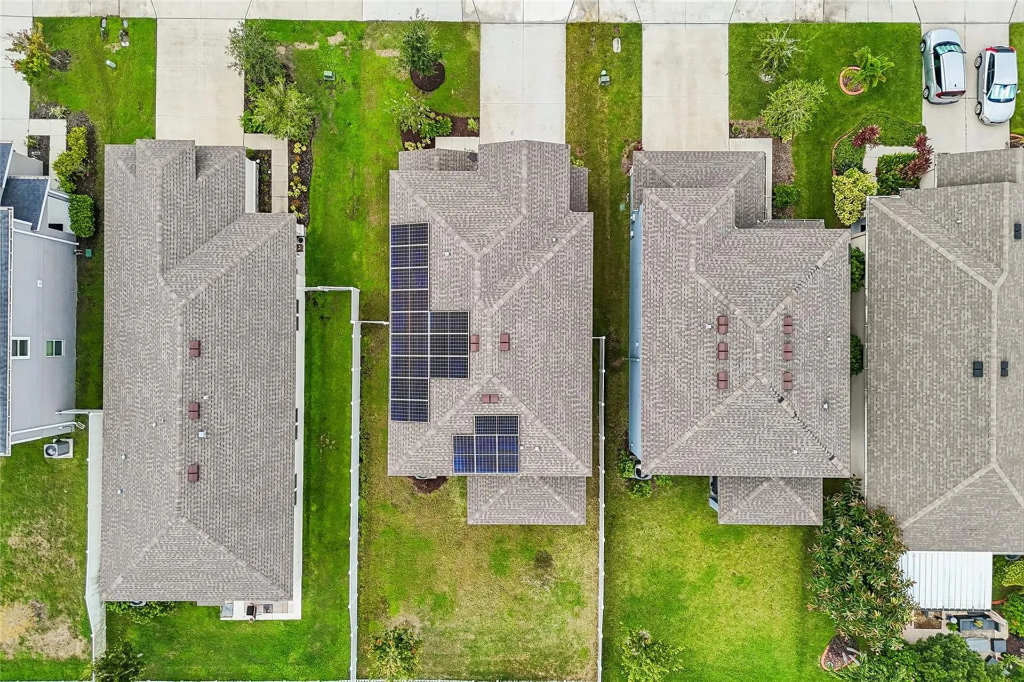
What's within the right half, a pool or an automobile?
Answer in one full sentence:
What appears within the right half is an automobile.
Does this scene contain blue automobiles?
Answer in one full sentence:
No, the picture doesn't show any blue automobile.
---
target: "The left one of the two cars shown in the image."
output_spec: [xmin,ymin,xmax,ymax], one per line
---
[921,29,969,106]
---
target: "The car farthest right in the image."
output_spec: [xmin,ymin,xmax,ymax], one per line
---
[974,46,1021,127]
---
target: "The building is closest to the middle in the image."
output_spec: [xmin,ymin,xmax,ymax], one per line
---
[388,140,593,524]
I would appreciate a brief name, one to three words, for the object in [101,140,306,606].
house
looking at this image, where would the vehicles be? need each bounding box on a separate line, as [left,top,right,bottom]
[921,29,969,106]
[974,46,1021,127]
